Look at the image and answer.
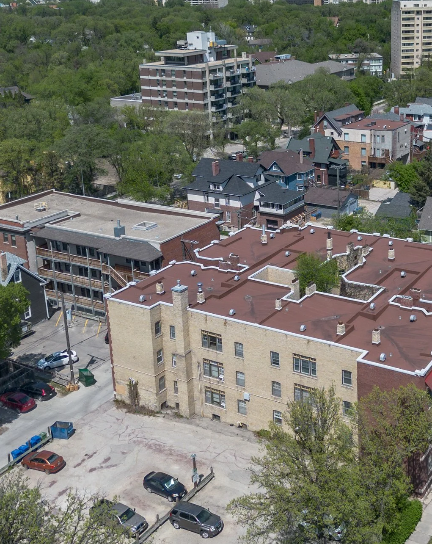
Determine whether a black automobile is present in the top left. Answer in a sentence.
No, no black automobile appears in the top left.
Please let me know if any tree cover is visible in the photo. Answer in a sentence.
Yes, there is tree cover in the image.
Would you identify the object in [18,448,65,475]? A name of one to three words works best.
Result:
car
